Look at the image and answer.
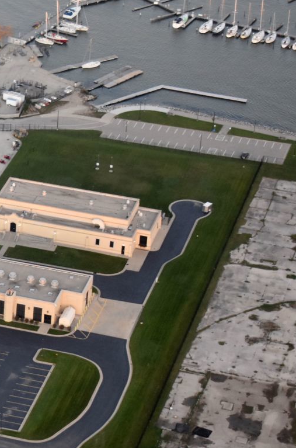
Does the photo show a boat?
Yes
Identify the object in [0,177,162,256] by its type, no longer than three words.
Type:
building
